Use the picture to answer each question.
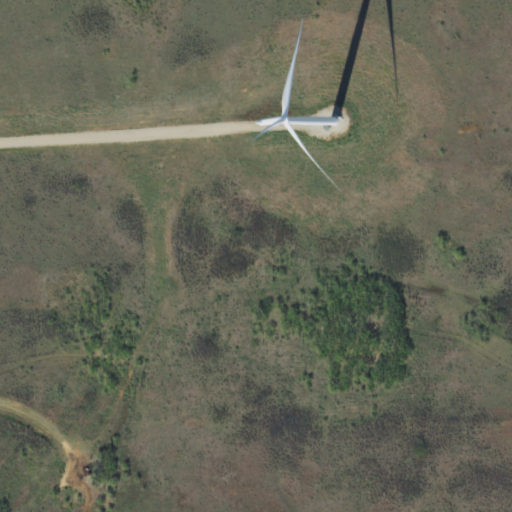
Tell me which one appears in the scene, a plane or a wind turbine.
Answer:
wind turbine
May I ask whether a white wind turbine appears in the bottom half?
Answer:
No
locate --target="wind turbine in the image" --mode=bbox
[252,18,345,191]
